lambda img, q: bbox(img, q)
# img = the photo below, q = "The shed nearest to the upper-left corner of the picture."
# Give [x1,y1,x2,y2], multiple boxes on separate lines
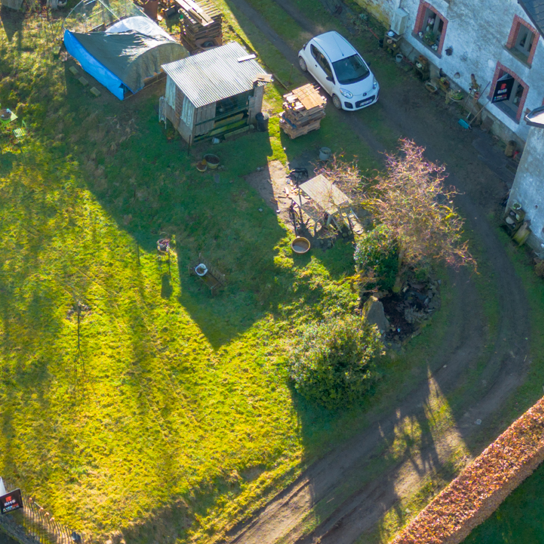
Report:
[159,50,275,146]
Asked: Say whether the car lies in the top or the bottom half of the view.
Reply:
top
